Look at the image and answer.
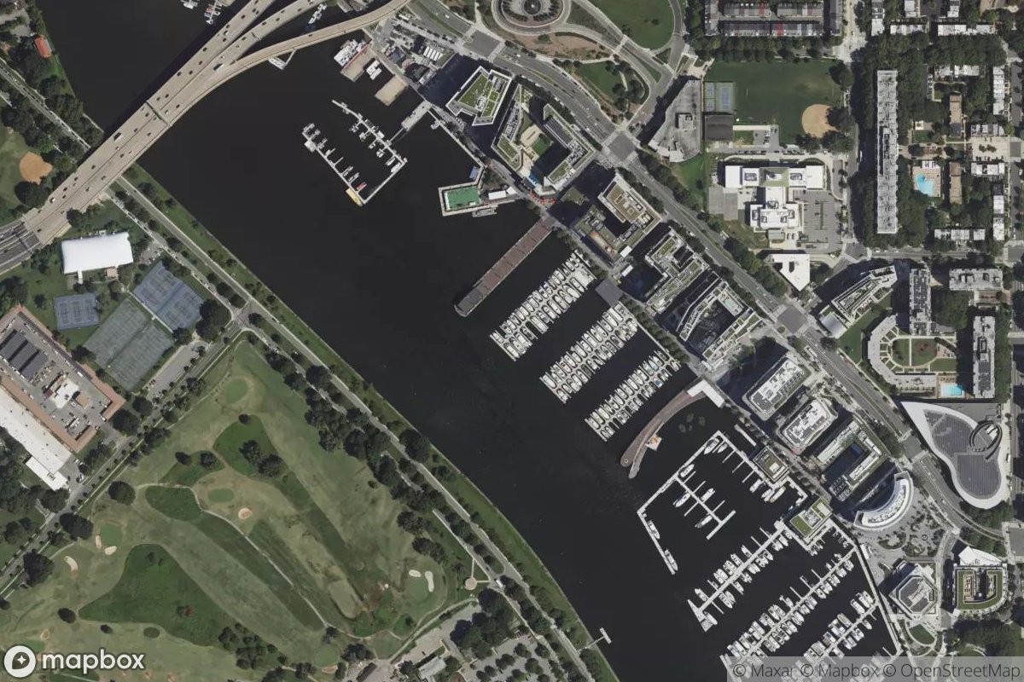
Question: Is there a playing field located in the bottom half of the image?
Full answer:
No, the scene shows no playing field in the bottom half of the image.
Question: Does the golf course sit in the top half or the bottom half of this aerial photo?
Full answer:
Seen from above, the golf course lies in the bottom half of the view.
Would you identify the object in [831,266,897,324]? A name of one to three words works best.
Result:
building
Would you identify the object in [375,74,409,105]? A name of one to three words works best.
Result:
ship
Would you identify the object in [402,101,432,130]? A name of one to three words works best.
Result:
pier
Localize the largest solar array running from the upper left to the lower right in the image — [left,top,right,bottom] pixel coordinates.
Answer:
[547,118,572,144]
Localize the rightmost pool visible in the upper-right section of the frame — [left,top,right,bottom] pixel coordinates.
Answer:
[912,167,940,197]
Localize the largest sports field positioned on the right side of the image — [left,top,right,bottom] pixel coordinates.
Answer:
[703,53,846,145]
